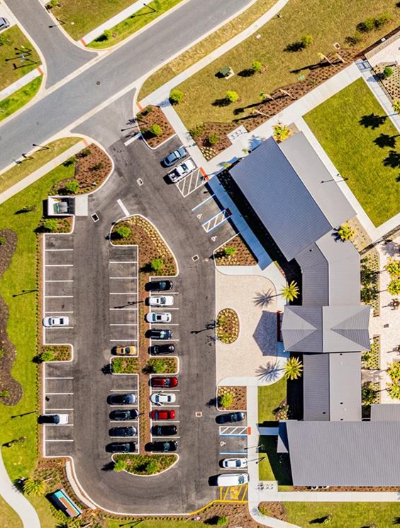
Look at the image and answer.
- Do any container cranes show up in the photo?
No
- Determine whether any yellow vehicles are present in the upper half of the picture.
No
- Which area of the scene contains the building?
right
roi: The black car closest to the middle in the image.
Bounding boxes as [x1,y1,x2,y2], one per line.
[146,280,173,292]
